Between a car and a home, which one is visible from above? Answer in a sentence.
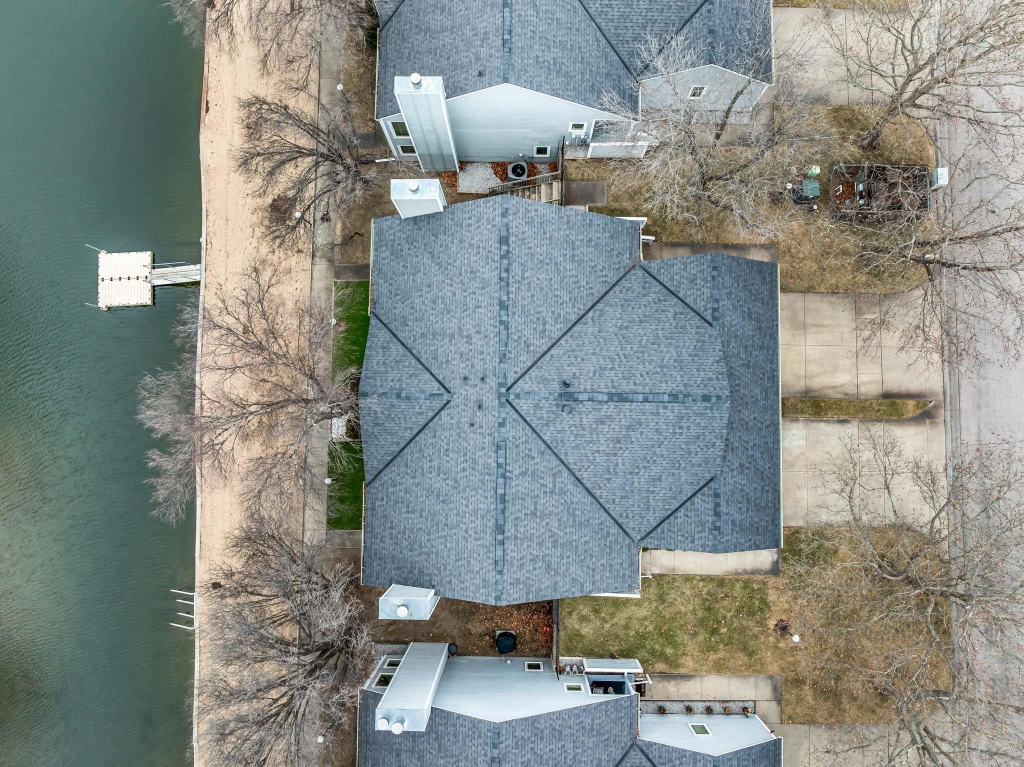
It is a home that can be seen here.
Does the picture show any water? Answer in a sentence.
Yes, there's water in this view.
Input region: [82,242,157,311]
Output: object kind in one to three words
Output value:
pier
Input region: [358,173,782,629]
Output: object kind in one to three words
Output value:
house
